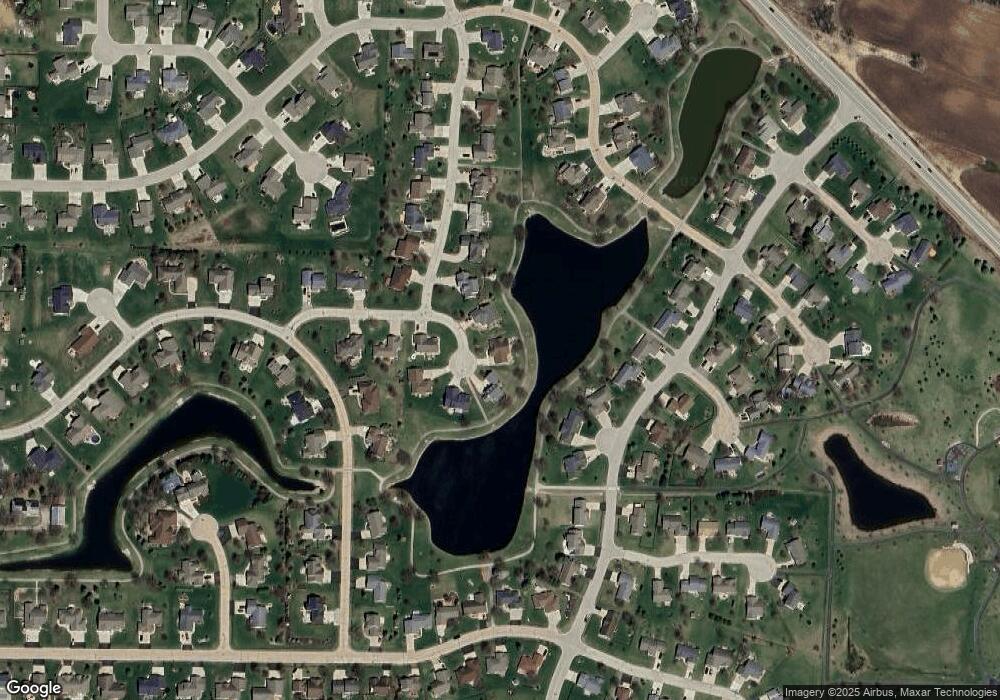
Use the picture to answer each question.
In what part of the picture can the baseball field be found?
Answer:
bottom right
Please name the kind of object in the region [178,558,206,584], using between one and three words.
house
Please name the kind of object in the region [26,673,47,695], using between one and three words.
house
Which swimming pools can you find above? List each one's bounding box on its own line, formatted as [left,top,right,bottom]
[266,20,279,35]
[327,217,350,236]
[85,432,101,444]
